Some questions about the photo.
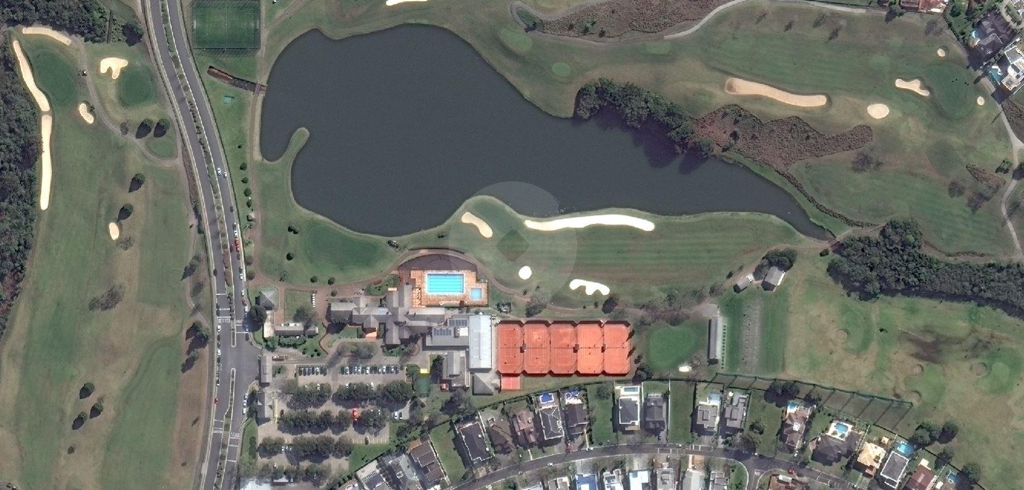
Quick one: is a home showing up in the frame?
Yes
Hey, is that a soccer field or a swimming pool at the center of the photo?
swimming pool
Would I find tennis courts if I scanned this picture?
Yes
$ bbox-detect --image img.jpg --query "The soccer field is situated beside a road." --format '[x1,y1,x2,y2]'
[193,2,260,48]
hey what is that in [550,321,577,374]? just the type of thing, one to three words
tennis court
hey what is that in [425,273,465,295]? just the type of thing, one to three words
swimming pool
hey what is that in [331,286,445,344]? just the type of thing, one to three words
building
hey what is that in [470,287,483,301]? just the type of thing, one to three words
swimming pool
